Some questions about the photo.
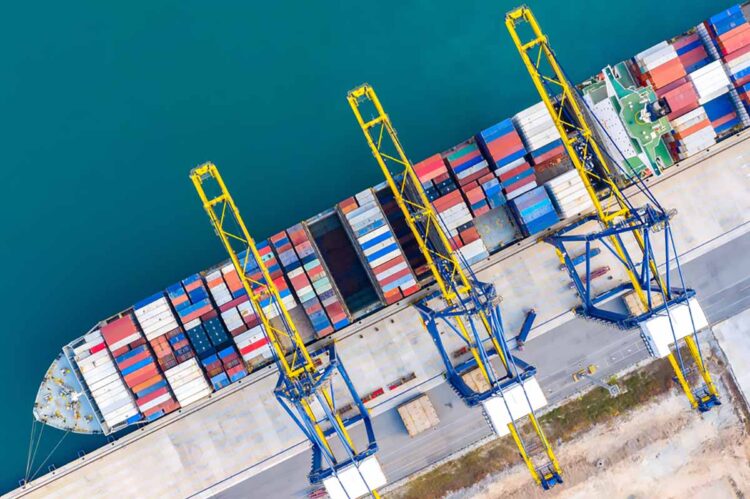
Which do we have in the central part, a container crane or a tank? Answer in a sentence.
The one visible in the central part is a container crane.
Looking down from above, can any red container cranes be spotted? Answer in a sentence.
No, there appears to be no red container crane in this shot.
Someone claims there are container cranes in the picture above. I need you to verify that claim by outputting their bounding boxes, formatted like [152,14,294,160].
[505,5,721,412]
[347,84,562,489]
[189,162,388,499]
